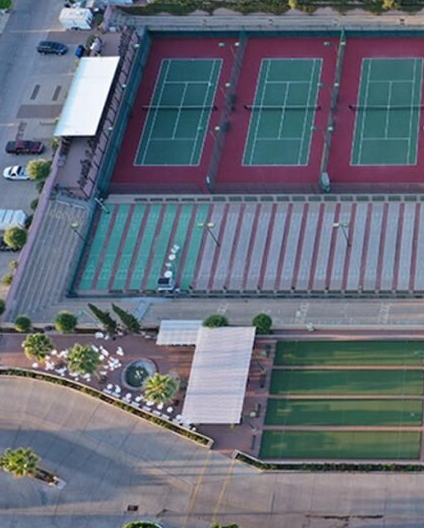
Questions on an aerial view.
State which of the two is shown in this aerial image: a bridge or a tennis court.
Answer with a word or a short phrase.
tennis court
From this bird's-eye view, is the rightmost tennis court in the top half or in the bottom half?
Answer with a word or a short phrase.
top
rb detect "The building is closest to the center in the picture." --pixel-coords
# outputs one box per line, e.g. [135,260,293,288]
[155,321,201,351]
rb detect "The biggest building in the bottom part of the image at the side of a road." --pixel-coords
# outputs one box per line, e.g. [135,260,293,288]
[181,326,259,428]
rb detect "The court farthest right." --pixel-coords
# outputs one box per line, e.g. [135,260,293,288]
[327,35,424,186]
